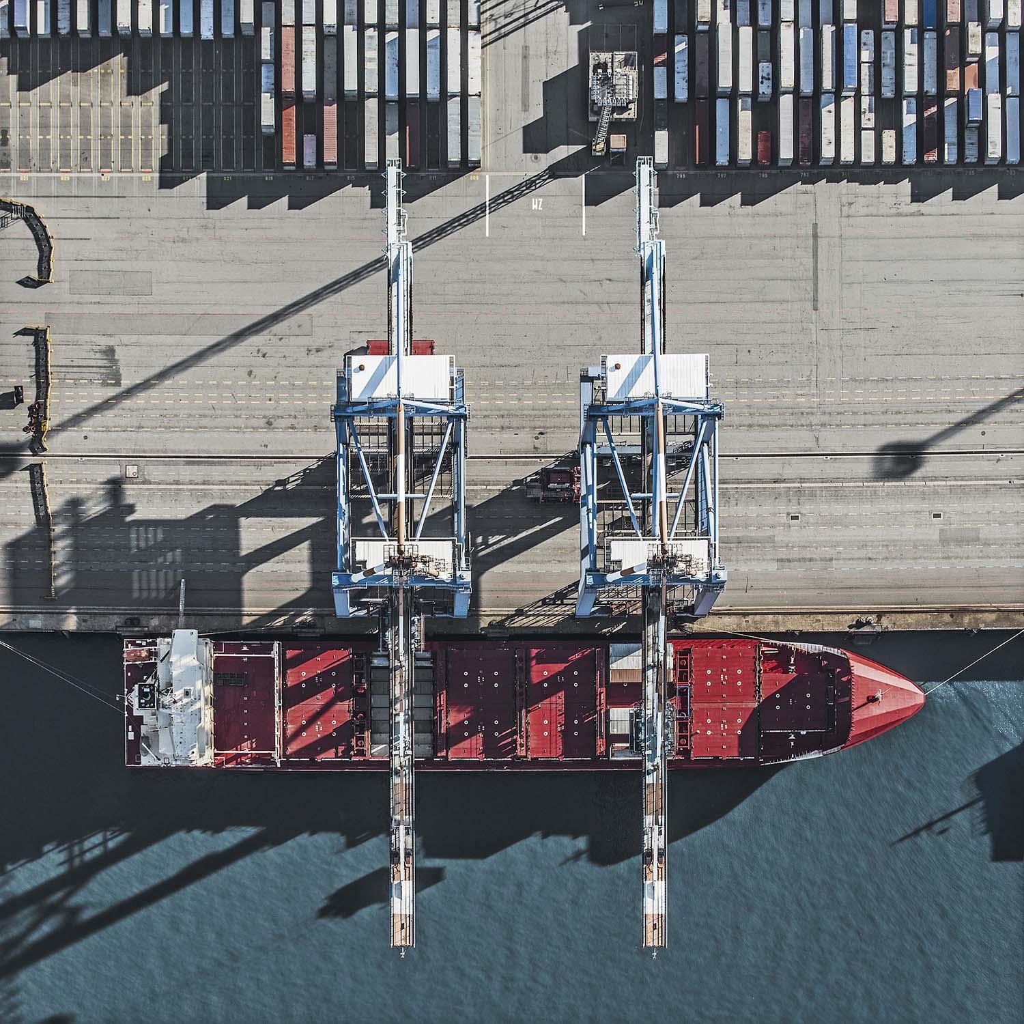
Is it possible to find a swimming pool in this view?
No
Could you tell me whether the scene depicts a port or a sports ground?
port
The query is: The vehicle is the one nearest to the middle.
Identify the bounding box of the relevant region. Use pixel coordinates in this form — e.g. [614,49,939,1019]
[524,466,576,507]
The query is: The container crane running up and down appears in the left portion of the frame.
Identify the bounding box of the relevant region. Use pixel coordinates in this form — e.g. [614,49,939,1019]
[327,159,479,959]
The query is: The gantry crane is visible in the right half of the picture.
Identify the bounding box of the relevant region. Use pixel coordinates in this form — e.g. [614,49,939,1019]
[575,159,732,958]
